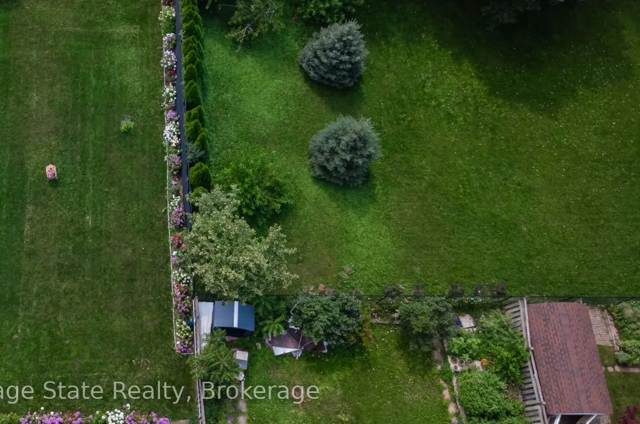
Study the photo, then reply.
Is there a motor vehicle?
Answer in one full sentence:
No, there is no motor vehicle in the image.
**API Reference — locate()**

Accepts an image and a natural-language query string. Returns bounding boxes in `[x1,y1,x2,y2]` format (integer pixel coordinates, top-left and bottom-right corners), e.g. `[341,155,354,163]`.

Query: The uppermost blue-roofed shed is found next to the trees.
[211,299,256,332]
